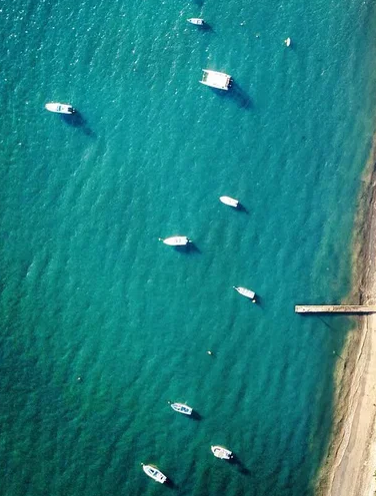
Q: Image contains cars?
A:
No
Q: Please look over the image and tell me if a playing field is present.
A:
No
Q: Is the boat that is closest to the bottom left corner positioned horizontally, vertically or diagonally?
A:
diagonally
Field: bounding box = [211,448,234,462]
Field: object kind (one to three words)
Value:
boat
